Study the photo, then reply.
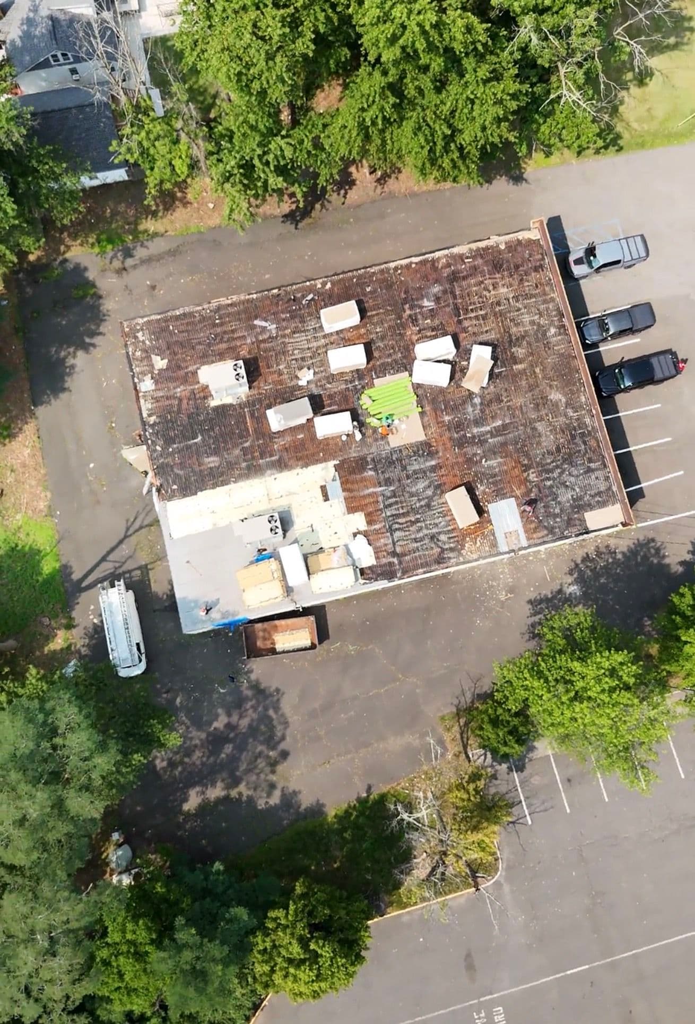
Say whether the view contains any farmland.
No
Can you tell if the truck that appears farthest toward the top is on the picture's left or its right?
right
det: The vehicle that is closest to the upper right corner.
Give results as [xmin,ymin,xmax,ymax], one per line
[568,233,651,282]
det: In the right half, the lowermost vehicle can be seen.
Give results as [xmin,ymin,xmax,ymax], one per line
[592,348,684,400]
